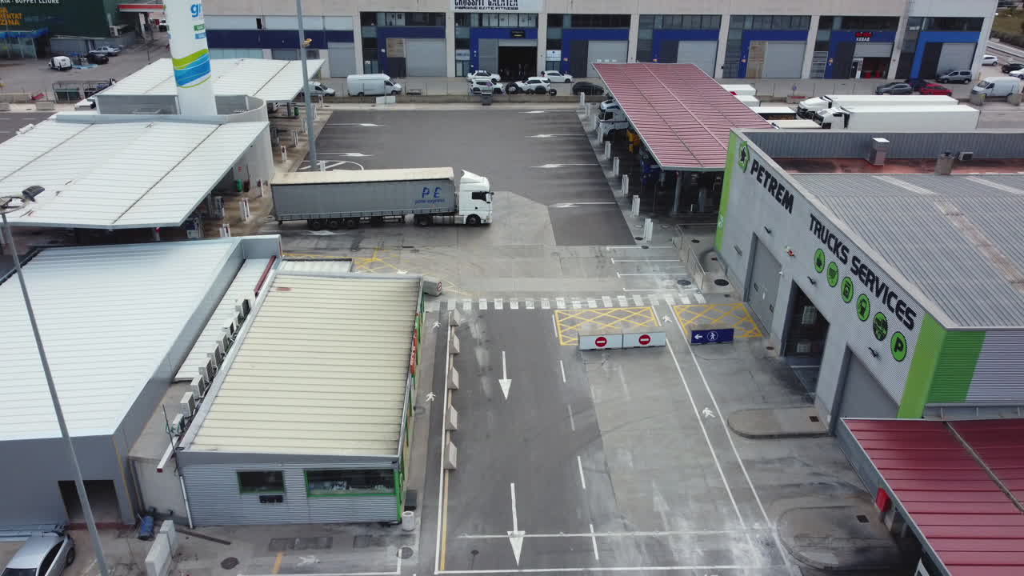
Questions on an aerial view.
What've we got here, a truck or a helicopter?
truck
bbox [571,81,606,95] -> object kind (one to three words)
car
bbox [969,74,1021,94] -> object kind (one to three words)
vehicle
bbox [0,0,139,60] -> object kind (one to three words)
building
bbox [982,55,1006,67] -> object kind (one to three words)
vehicle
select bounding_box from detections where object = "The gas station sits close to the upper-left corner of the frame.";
[124,0,164,39]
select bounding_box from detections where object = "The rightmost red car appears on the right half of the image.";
[914,81,951,95]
